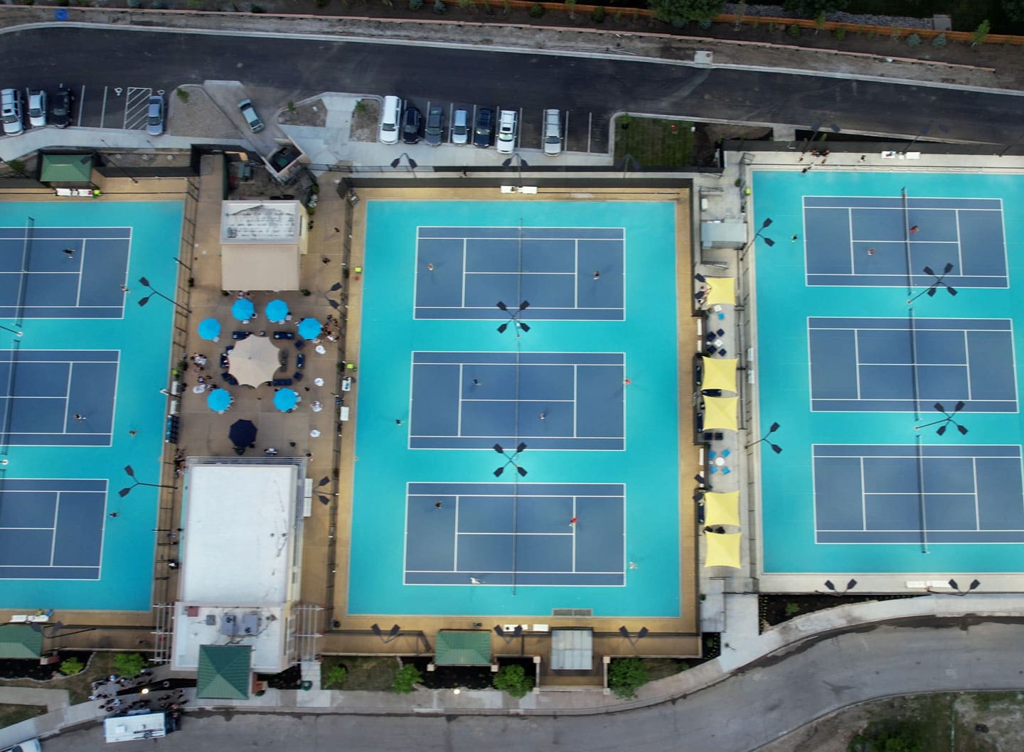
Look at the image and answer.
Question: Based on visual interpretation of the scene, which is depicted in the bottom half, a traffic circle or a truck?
truck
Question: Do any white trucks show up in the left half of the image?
Yes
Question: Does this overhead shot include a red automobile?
No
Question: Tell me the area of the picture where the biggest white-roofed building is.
bottom left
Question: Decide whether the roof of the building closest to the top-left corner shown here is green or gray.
green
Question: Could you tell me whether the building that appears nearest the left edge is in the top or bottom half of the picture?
bottom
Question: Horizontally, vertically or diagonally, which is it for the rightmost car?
vertically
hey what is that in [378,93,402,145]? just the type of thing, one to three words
car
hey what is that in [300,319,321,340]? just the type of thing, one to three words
umbrella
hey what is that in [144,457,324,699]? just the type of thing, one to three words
building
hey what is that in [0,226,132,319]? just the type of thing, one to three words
tennis court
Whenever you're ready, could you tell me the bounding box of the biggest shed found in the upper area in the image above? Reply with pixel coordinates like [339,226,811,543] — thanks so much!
[221,200,312,298]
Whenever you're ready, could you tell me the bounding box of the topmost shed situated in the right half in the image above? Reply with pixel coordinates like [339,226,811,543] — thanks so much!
[699,218,747,252]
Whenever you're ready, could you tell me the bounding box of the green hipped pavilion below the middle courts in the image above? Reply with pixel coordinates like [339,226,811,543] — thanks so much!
[435,630,493,665]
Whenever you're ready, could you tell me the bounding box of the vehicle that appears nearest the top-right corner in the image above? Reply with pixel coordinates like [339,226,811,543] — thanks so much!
[542,109,563,156]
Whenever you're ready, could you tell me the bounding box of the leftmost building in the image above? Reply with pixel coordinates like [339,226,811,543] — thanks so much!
[0,623,59,659]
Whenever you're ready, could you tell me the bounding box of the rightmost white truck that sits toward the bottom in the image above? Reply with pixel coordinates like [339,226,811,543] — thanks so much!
[106,706,190,742]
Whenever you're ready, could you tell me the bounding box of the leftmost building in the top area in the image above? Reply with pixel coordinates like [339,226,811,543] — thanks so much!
[40,154,107,193]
